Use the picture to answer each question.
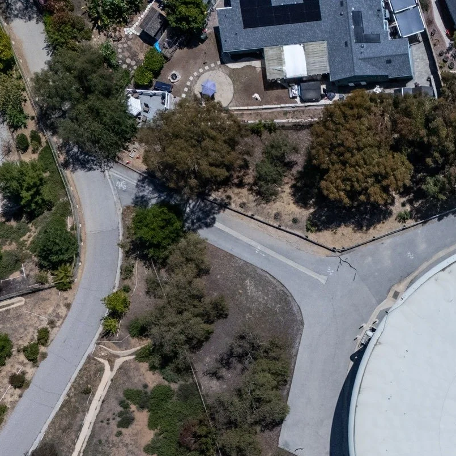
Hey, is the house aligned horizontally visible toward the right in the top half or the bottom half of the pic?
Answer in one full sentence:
The top half of the photo is where the house aligned horizontally visible toward the right is.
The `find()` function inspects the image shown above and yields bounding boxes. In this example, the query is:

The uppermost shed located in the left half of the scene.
[139,7,174,40]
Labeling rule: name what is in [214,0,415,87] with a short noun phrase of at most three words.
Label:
house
